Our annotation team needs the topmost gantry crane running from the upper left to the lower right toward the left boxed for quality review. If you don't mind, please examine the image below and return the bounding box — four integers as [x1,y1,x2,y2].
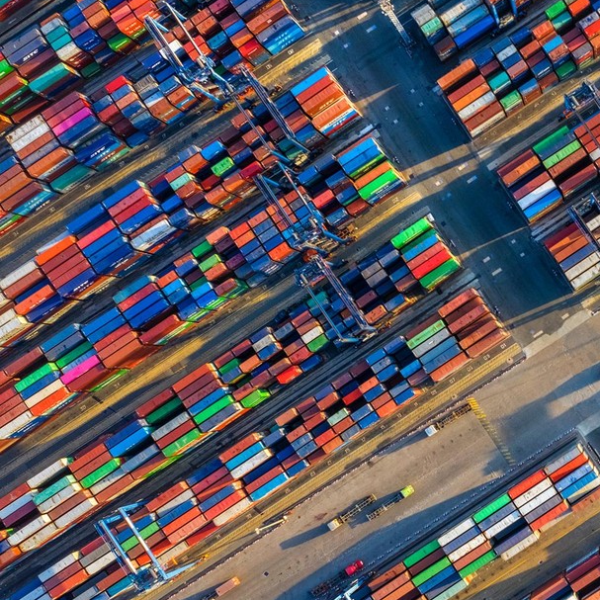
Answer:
[139,0,242,116]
